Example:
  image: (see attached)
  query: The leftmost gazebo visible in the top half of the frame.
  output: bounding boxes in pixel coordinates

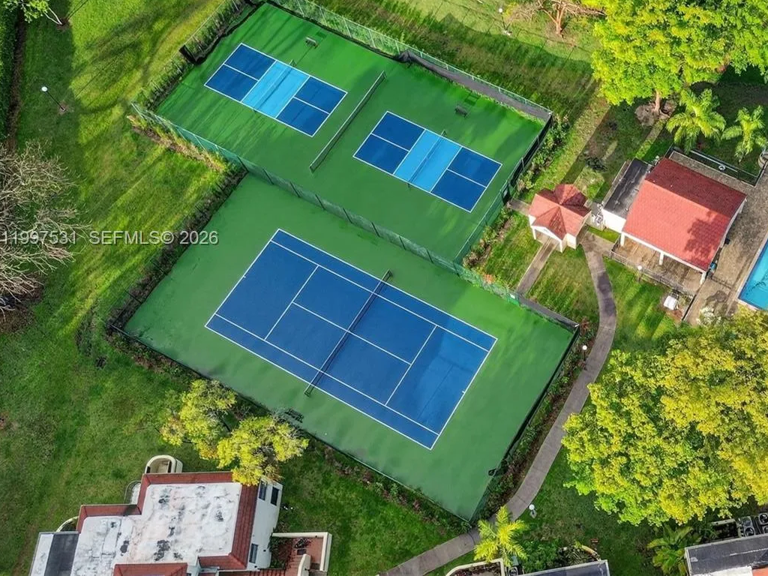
[528,183,593,252]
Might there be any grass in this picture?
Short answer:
Yes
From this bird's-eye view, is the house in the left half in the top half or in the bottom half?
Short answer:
bottom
